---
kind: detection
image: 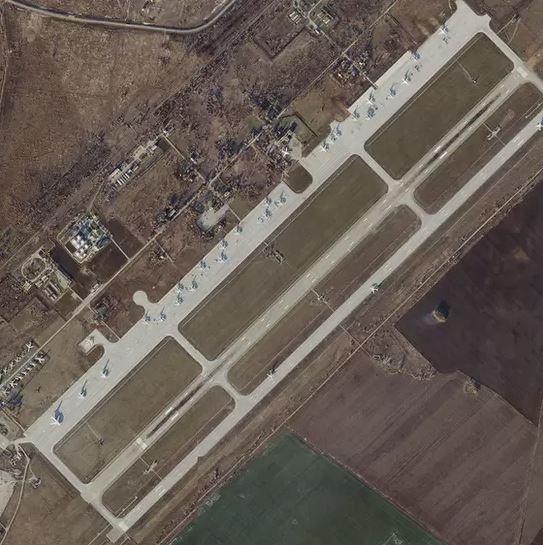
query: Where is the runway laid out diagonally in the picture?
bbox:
[85,64,532,499]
